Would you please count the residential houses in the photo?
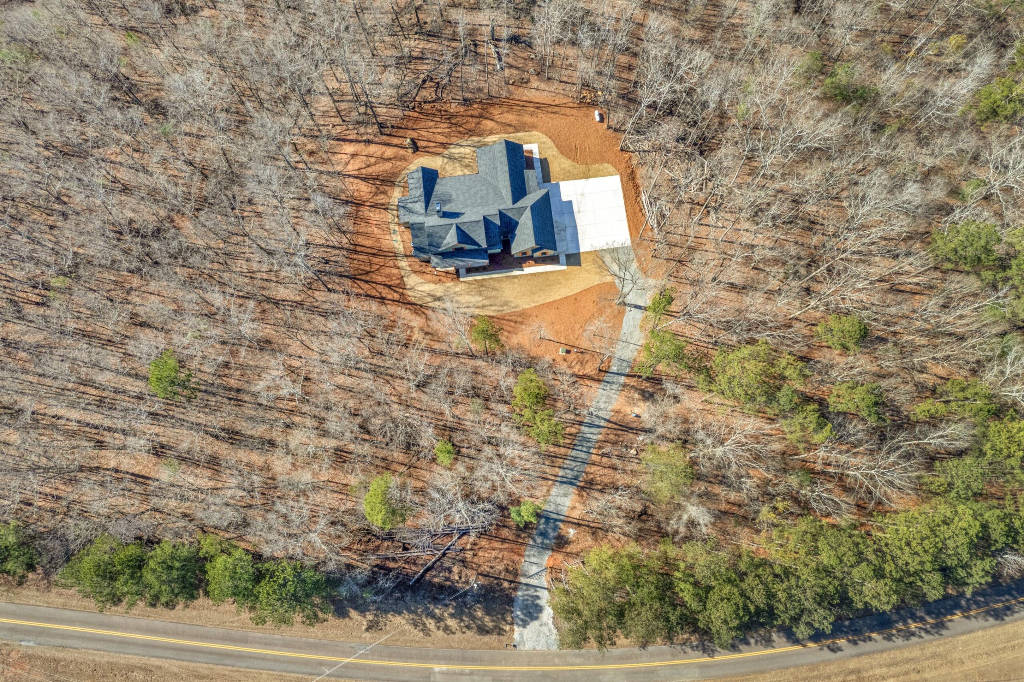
1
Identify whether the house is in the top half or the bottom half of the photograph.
top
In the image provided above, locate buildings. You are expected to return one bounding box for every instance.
[397,138,557,273]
